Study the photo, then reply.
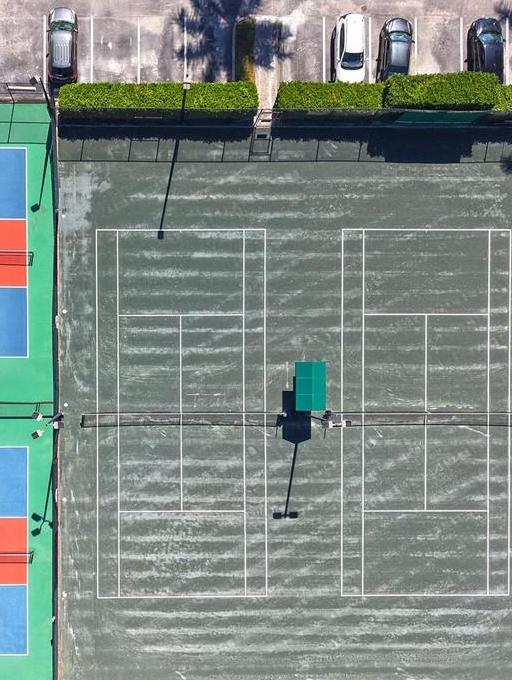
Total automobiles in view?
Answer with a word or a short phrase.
4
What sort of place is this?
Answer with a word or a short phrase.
sports ground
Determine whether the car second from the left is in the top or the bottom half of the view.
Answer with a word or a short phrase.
top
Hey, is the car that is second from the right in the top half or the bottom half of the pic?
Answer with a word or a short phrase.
top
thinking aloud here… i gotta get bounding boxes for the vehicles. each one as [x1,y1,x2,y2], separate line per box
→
[466,17,507,88]
[377,19,415,82]
[45,8,81,87]
[330,13,368,85]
